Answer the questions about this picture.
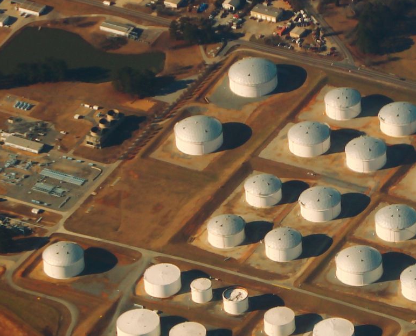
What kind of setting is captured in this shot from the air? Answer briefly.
industrial area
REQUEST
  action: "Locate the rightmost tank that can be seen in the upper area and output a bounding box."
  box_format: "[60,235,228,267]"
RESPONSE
[377,101,416,137]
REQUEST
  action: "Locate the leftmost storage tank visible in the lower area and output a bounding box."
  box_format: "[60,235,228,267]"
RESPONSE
[39,241,86,281]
